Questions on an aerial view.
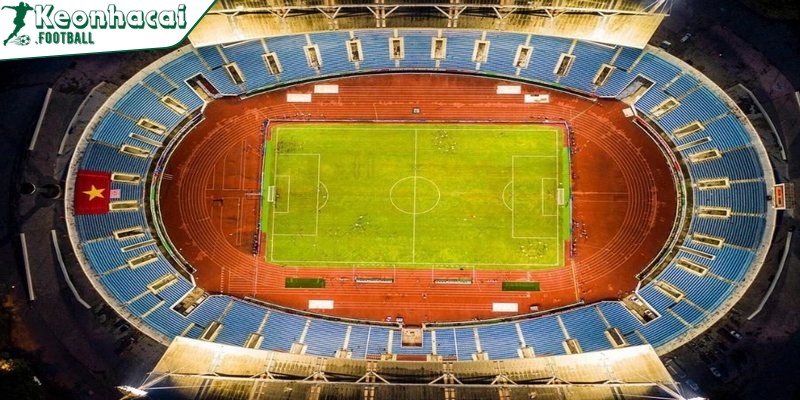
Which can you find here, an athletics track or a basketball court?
athletics track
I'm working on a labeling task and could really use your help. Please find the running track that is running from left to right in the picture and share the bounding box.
[159,80,679,321]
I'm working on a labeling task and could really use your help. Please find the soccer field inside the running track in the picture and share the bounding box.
[261,123,571,270]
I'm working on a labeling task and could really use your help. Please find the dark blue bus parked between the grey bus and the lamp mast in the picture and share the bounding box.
[683,373,709,400]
